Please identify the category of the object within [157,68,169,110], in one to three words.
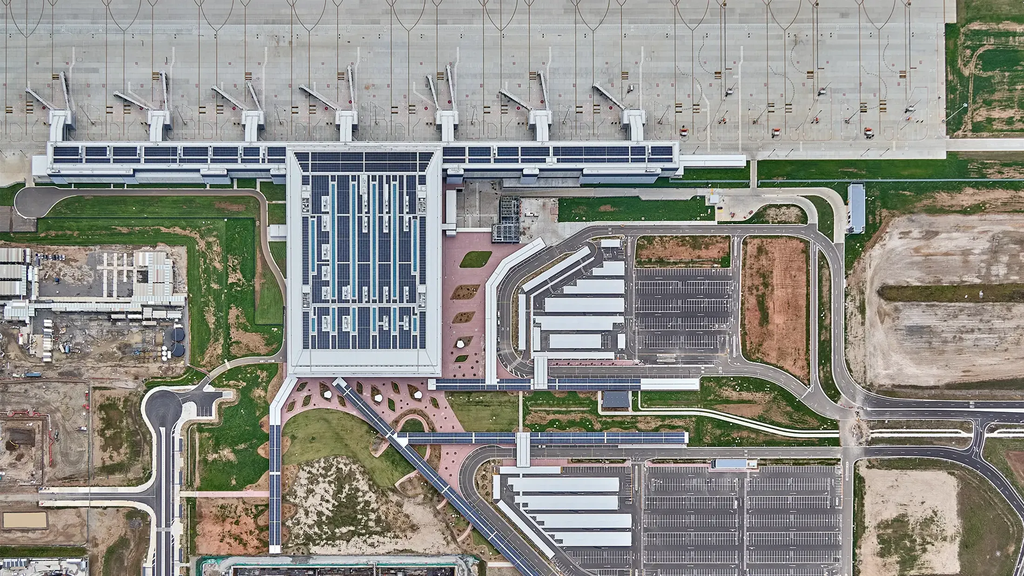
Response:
jet bridge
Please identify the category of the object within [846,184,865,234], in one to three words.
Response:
building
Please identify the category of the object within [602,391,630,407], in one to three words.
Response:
building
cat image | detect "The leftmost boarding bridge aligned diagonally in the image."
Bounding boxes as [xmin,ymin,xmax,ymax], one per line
[23,87,56,110]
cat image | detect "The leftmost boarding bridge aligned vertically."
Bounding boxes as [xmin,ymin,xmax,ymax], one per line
[58,70,73,113]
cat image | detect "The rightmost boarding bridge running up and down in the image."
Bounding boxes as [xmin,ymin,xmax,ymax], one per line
[536,69,550,110]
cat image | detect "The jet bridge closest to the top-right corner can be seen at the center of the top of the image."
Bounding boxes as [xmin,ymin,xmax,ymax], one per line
[591,82,628,114]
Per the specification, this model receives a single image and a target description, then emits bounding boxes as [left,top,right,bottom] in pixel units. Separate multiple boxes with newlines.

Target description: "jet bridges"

[245,80,264,111]
[345,64,356,111]
[157,68,169,110]
[23,87,56,110]
[536,69,550,110]
[498,88,533,113]
[209,85,245,113]
[424,73,440,113]
[58,70,73,113]
[111,91,151,112]
[297,84,338,114]
[443,64,456,111]
[591,82,628,114]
